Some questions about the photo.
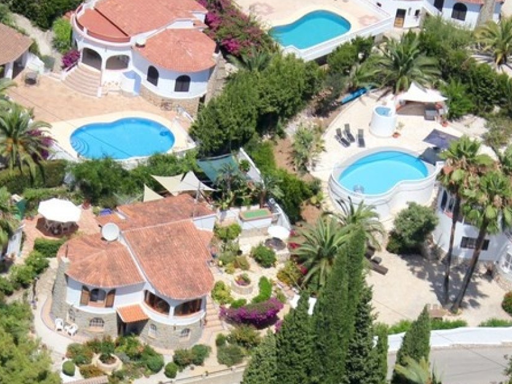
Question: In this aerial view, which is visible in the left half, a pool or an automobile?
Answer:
pool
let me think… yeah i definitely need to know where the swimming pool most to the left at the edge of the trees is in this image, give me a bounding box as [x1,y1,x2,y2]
[57,111,187,165]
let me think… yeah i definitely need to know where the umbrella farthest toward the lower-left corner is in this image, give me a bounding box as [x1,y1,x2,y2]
[38,199,82,224]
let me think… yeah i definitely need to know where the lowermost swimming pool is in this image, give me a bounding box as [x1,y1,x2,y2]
[327,147,442,235]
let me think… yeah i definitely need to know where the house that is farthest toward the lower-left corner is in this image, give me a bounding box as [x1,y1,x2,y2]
[52,193,217,344]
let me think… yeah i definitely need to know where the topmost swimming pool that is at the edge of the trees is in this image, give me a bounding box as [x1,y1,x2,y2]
[262,6,358,49]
